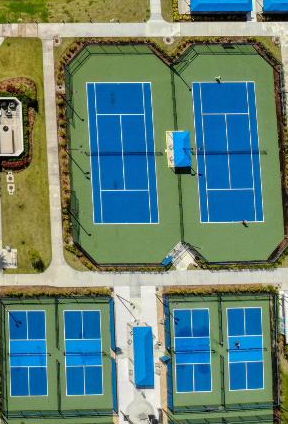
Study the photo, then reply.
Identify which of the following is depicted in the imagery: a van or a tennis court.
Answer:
tennis court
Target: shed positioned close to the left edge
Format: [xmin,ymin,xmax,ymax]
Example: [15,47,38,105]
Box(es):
[1,128,16,153]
